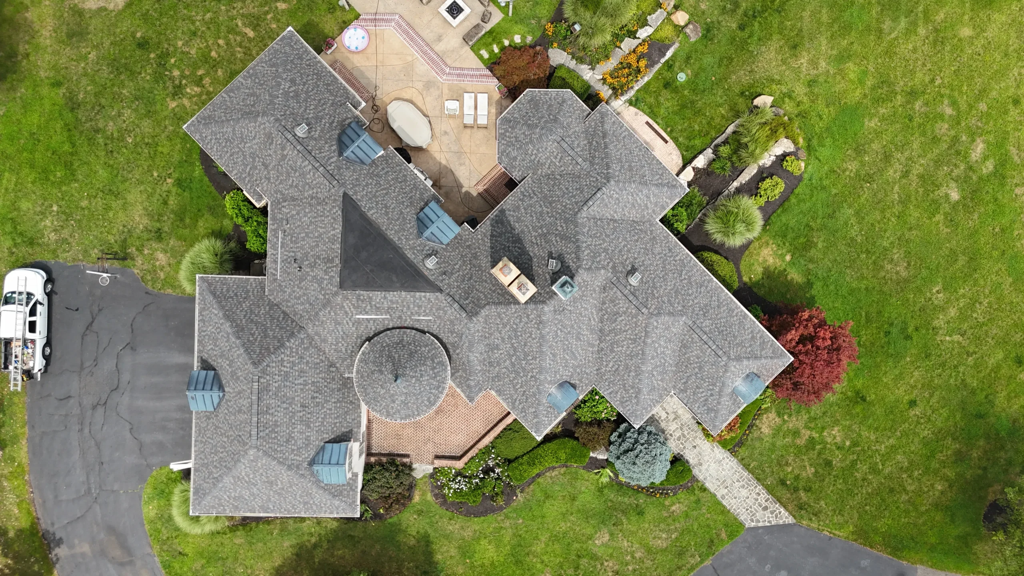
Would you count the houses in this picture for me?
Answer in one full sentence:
Only 1 house is visible.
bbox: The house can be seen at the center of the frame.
[181,24,796,519]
